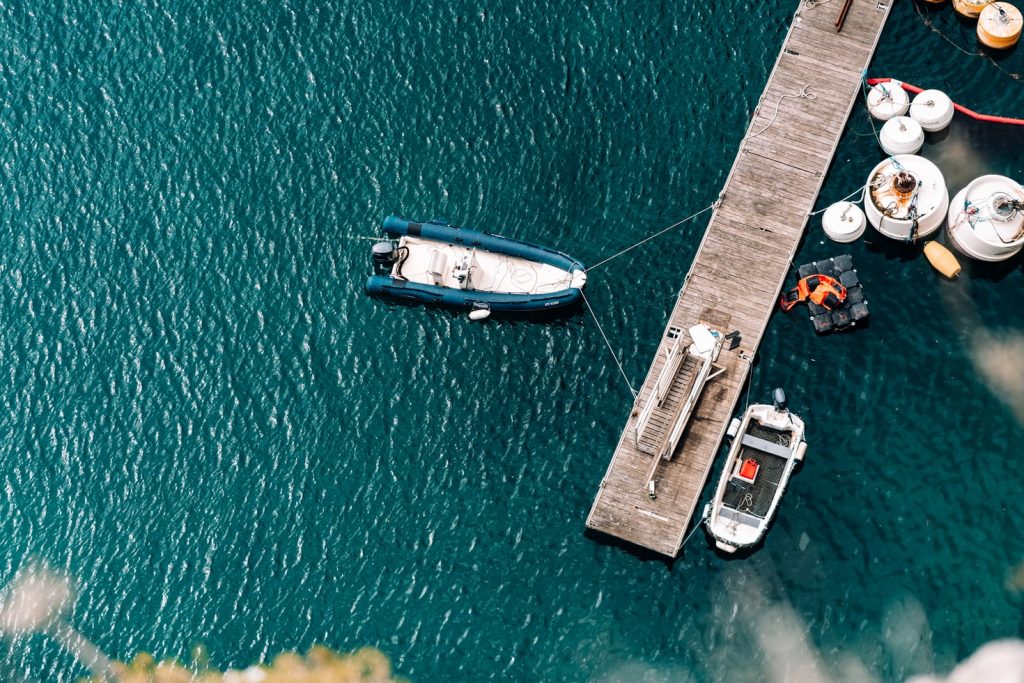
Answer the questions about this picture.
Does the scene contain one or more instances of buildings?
No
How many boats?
2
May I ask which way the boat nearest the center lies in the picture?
horizontally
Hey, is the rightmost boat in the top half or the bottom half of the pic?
bottom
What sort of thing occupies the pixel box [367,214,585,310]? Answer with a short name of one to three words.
boat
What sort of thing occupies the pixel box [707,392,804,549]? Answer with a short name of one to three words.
boat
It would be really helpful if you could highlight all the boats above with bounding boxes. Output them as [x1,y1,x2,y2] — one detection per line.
[367,214,585,310]
[707,392,804,549]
